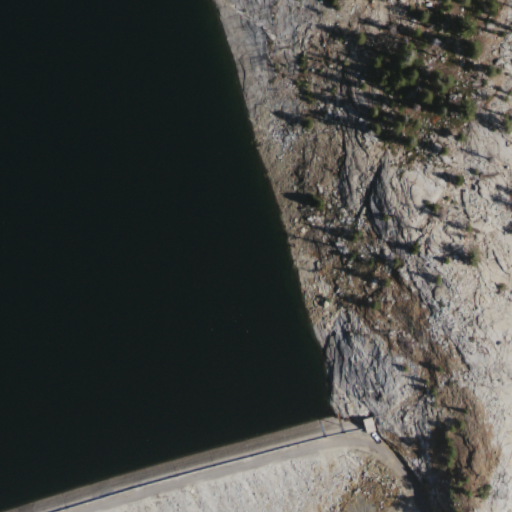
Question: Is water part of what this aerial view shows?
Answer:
Yes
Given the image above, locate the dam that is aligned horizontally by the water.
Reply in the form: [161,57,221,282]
[0,417,362,512]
